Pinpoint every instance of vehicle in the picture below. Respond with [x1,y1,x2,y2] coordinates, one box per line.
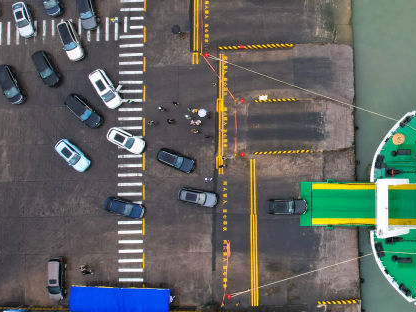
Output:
[267,198,307,216]
[155,148,195,173]
[104,197,145,219]
[74,0,99,29]
[45,259,66,299]
[104,126,146,155]
[0,65,24,105]
[29,48,61,87]
[178,187,218,207]
[89,68,121,109]
[63,93,103,128]
[41,0,63,16]
[57,20,85,61]
[11,0,37,38]
[53,138,91,172]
